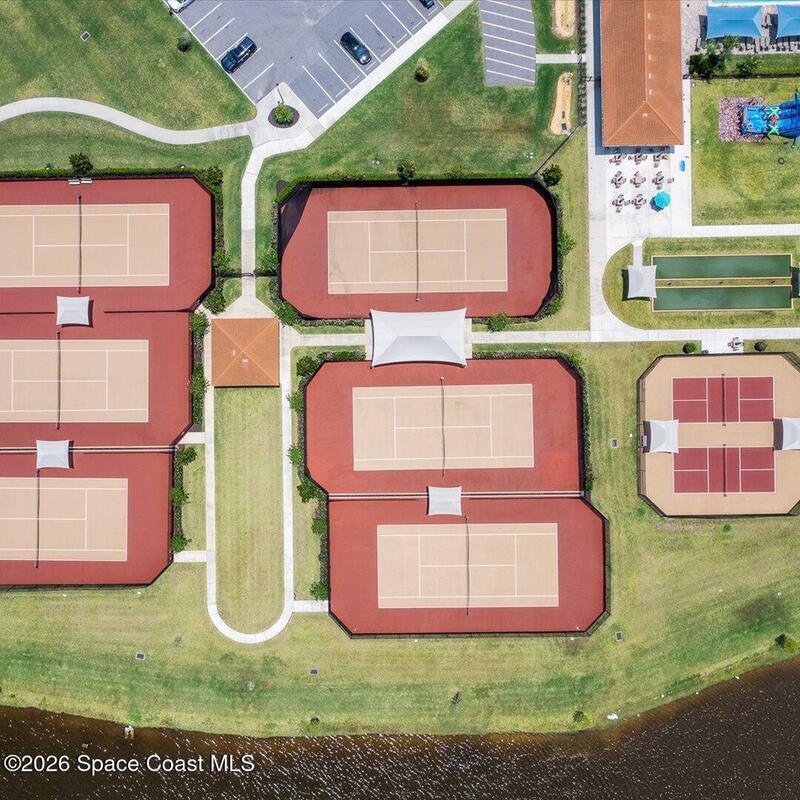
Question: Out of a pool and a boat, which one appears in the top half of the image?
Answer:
pool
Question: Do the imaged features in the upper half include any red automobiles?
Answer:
No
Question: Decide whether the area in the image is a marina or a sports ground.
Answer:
sports ground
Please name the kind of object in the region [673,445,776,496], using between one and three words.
sports court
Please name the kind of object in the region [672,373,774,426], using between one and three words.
sports court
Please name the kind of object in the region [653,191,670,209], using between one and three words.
umbrella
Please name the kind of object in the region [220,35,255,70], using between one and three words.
car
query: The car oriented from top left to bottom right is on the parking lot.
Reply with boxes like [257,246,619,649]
[340,29,371,63]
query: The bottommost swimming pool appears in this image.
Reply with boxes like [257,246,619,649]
[738,104,769,136]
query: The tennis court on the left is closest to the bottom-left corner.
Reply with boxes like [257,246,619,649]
[0,451,170,586]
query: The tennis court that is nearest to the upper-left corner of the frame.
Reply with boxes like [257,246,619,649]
[0,178,214,311]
